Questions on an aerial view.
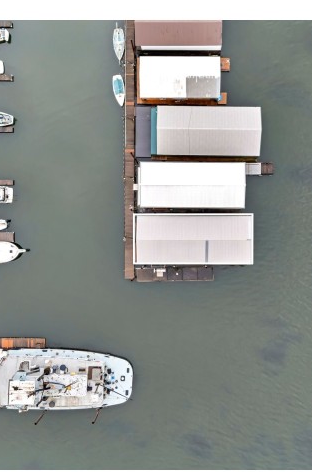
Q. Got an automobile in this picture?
No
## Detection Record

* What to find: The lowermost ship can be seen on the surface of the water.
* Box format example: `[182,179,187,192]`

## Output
[0,344,134,413]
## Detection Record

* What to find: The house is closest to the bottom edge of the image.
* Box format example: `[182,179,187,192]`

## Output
[134,214,253,267]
